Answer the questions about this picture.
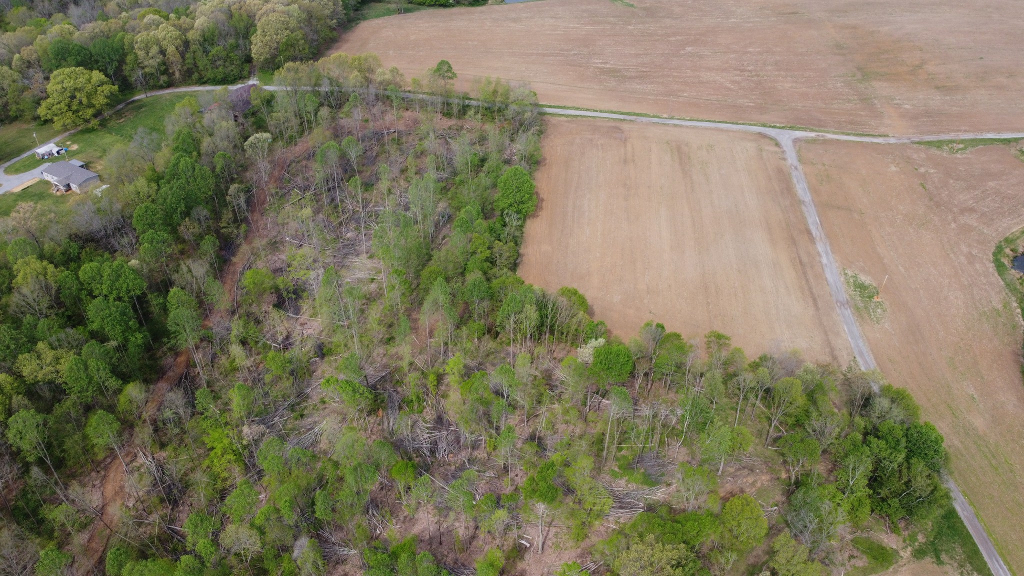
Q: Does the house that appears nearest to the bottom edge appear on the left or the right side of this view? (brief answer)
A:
left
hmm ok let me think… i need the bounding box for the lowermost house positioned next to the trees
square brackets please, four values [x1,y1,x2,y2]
[39,158,109,194]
